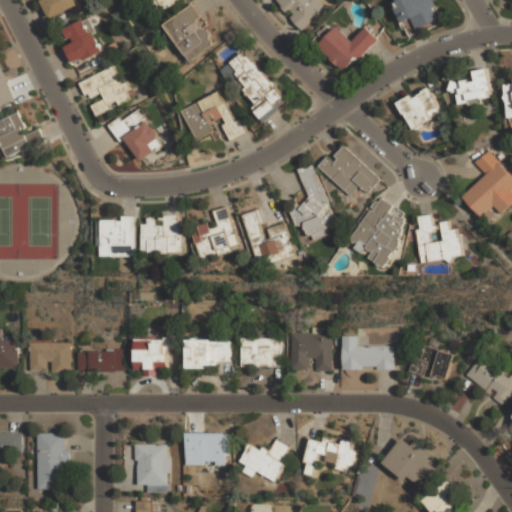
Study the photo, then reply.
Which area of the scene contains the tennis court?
left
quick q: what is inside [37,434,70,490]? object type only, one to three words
house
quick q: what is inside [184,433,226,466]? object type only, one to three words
house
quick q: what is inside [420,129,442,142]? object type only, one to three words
swimming pool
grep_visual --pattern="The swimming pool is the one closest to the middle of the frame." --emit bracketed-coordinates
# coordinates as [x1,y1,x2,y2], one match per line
[333,251,350,272]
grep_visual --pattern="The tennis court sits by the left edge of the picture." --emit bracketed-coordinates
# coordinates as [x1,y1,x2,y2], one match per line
[0,164,80,281]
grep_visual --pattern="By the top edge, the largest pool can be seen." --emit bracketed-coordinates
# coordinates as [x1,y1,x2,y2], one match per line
[350,3,365,28]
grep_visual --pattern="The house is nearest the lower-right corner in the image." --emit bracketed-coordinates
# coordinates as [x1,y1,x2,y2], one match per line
[422,480,452,512]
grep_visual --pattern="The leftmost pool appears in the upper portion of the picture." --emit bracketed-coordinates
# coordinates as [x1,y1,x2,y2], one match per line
[218,46,240,62]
